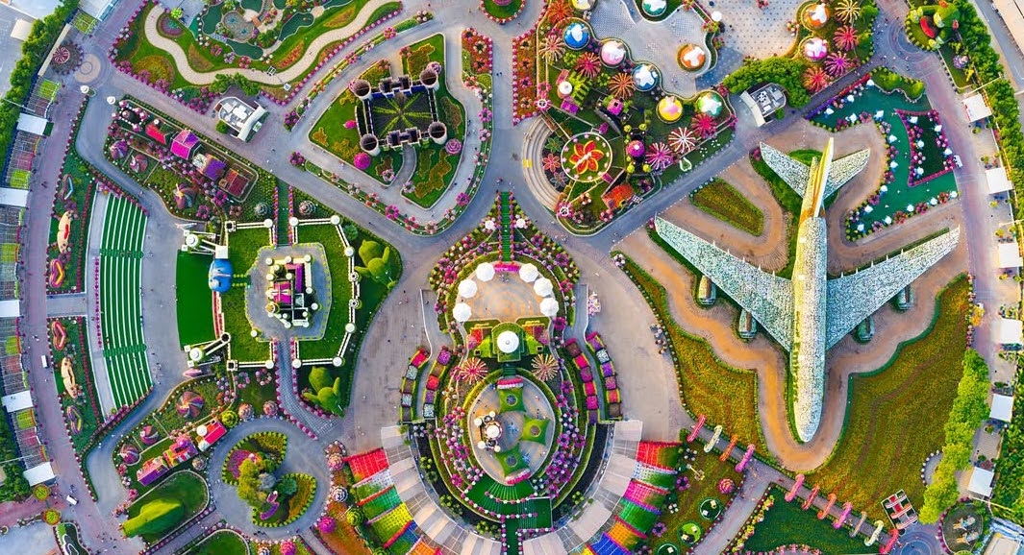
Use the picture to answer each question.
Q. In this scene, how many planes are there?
1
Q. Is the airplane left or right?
right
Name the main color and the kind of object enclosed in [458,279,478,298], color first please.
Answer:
white umbrella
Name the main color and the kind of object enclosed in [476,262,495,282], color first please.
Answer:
white umbrella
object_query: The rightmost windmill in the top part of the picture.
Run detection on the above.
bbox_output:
[169,185,199,209]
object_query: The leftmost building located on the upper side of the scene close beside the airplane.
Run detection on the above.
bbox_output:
[731,78,789,130]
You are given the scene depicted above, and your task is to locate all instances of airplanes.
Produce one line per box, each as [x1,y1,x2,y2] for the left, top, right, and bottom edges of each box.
[655,138,959,442]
